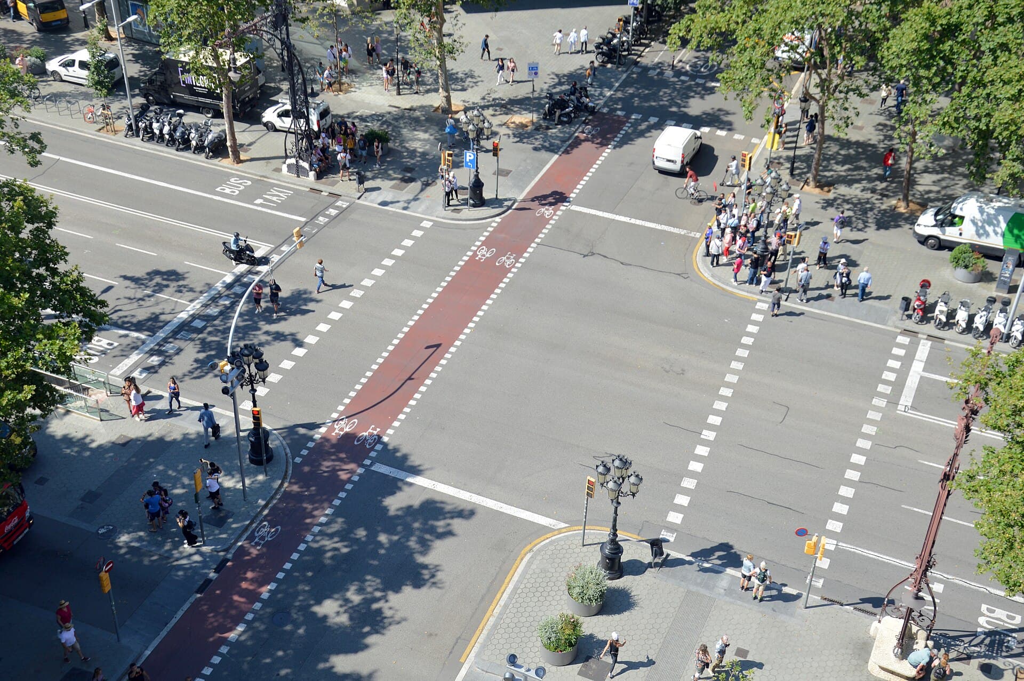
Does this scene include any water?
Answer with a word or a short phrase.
No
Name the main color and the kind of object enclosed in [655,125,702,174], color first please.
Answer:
white van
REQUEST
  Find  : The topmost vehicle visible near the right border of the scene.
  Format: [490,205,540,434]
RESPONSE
[914,191,1024,269]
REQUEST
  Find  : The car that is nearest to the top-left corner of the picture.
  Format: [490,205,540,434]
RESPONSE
[36,0,80,28]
